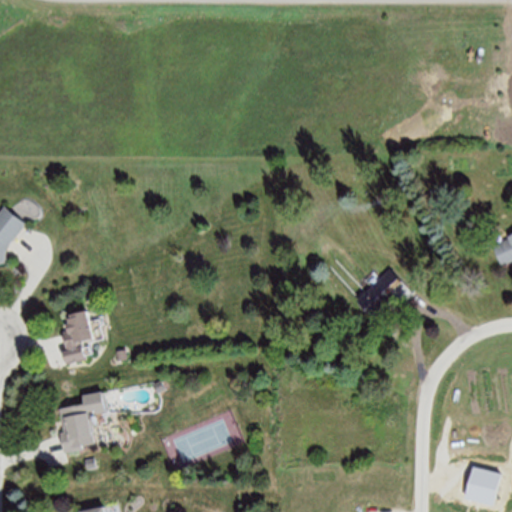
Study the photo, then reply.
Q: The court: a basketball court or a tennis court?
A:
tennis court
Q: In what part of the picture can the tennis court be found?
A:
bottom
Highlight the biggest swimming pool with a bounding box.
[121,390,150,404]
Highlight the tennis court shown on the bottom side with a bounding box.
[162,410,244,472]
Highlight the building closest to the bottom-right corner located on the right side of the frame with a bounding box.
[465,468,501,507]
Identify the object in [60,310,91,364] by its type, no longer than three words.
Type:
house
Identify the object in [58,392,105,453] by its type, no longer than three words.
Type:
house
